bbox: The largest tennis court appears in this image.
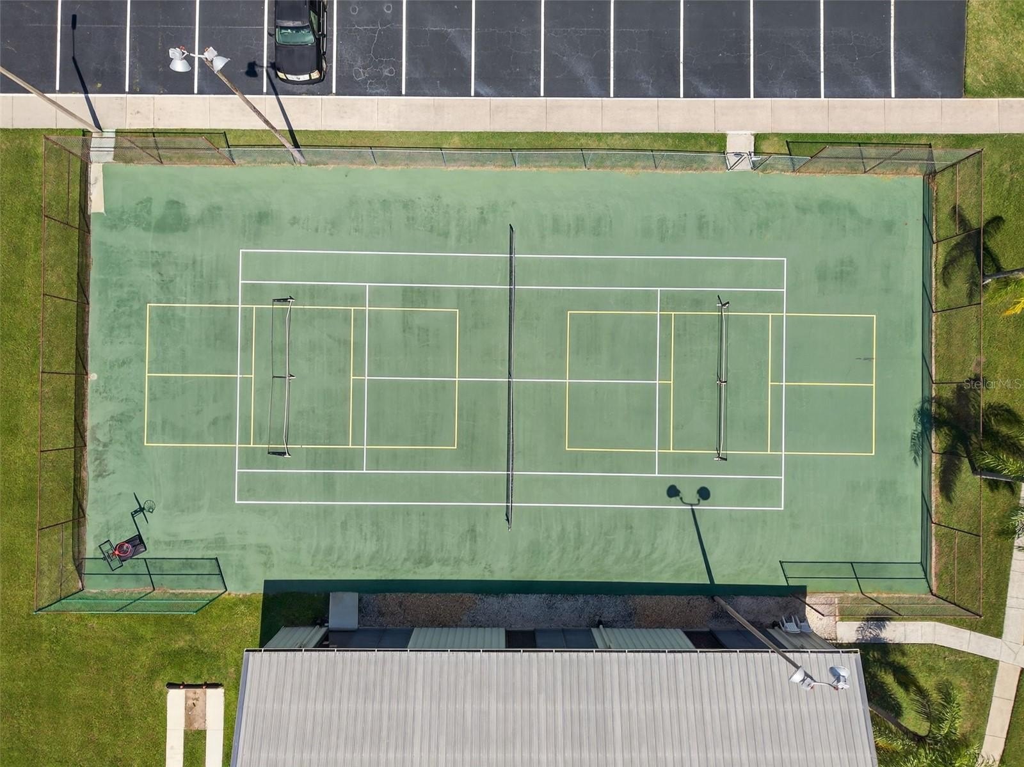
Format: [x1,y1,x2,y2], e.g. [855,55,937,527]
[84,162,935,594]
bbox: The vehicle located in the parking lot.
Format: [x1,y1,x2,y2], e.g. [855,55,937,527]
[267,0,329,87]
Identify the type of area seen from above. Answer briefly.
sports ground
